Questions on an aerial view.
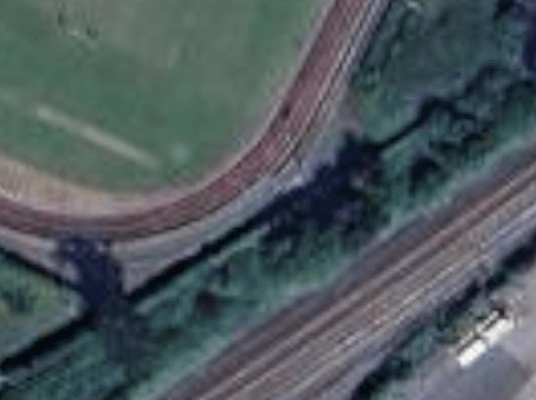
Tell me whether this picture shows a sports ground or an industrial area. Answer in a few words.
sports ground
